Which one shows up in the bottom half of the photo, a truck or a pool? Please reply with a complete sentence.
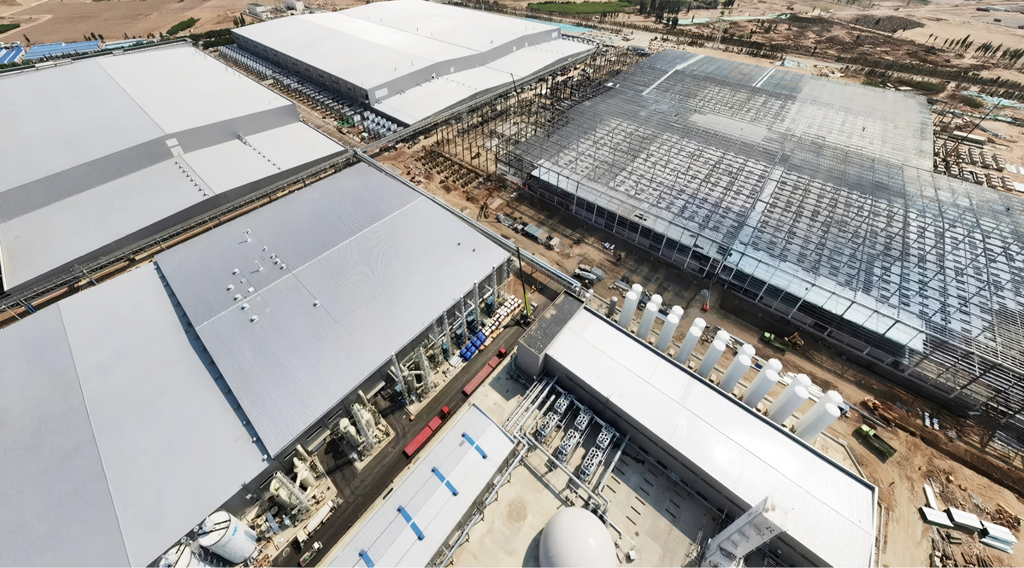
The feature located in the bottom half of the photo is a truck.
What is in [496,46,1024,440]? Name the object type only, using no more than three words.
building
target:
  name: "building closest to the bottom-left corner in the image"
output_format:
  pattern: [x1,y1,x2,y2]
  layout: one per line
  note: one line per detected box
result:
[0,258,278,568]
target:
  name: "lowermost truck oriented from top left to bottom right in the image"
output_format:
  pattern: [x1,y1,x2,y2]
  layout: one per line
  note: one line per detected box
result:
[863,425,910,461]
